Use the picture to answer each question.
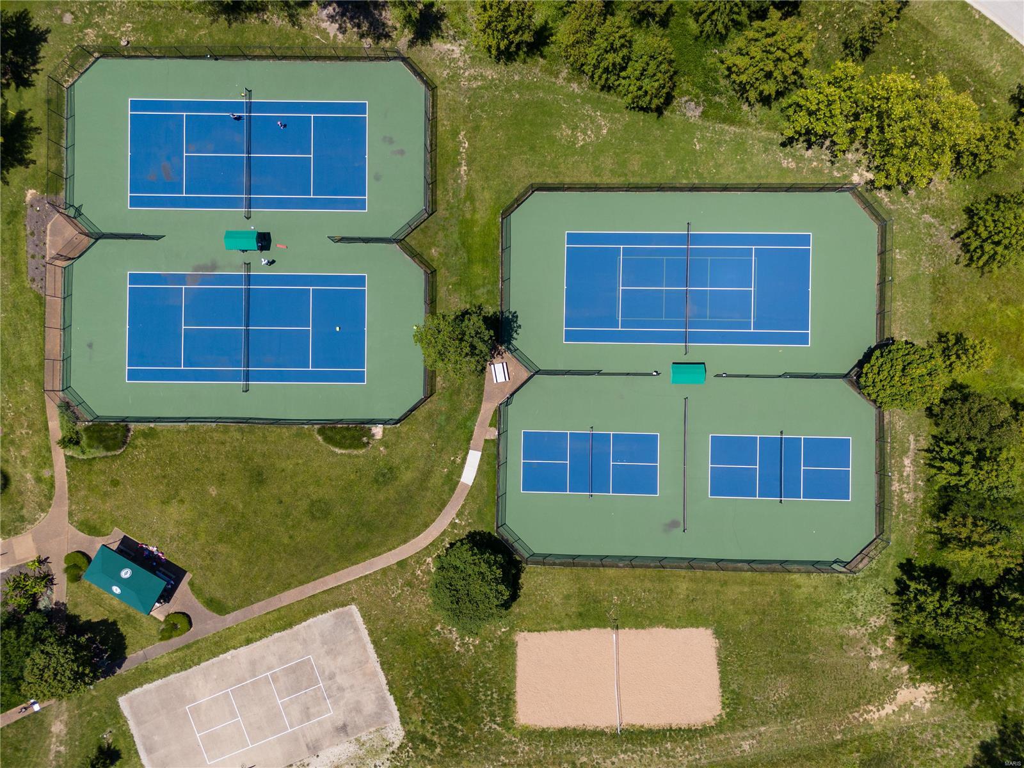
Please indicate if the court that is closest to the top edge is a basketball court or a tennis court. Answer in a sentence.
It turns out the court that is closest to the top edge is a tennis court.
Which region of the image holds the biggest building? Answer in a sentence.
The biggest building appears toward the bottom left of the photo.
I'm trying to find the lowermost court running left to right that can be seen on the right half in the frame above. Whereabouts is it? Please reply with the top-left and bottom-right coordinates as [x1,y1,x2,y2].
[516,627,722,728]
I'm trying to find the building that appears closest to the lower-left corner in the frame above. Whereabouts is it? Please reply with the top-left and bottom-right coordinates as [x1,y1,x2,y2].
[83,542,174,615]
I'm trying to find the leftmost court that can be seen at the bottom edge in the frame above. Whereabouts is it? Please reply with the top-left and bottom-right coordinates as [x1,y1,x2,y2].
[121,608,395,768]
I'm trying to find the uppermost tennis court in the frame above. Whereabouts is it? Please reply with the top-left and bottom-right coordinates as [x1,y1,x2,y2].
[128,99,368,212]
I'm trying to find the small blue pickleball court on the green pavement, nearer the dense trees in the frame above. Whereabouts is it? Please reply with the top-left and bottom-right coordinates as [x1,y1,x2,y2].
[709,435,851,501]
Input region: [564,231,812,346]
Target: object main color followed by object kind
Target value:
blue tennis court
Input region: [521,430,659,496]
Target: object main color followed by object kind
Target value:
blue sports court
